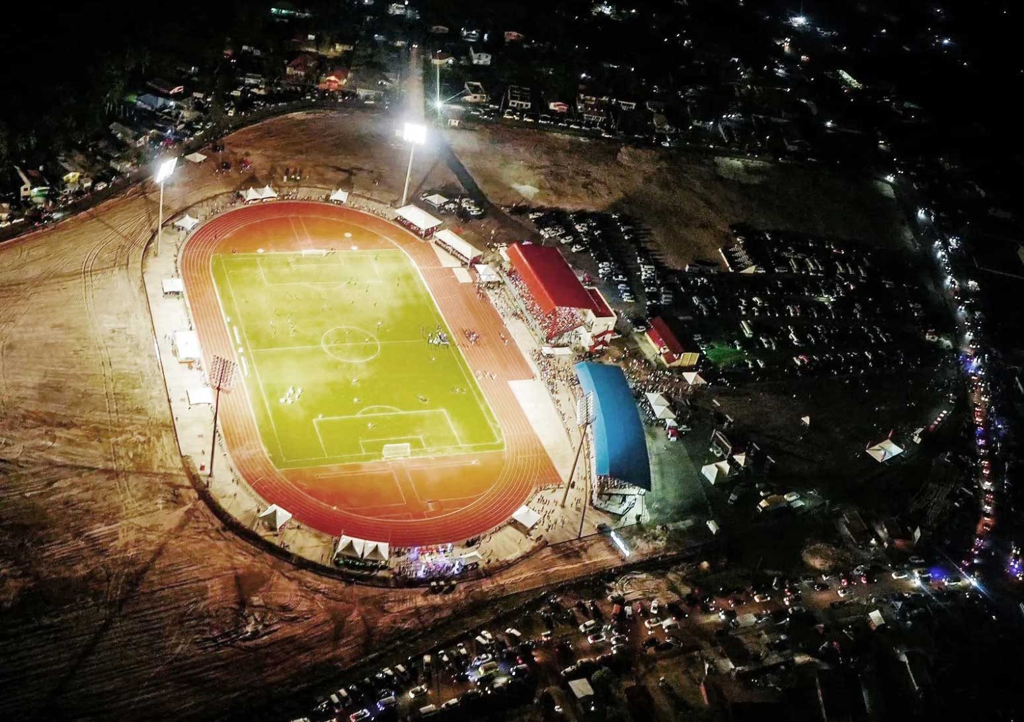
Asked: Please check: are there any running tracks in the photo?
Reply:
Yes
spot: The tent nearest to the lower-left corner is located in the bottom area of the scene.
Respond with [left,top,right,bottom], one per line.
[256,504,294,534]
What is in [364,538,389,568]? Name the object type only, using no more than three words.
tent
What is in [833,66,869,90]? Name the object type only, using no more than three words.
house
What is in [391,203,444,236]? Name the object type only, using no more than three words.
tent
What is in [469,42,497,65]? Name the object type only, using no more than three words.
house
